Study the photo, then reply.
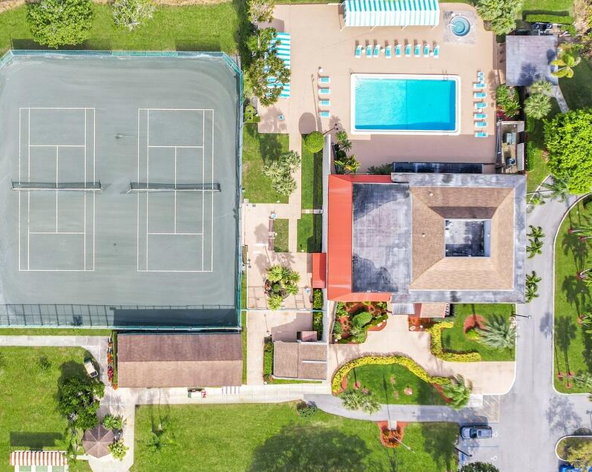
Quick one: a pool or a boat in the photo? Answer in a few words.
pool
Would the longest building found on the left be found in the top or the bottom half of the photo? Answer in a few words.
bottom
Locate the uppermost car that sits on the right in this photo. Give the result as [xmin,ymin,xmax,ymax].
[461,424,494,439]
